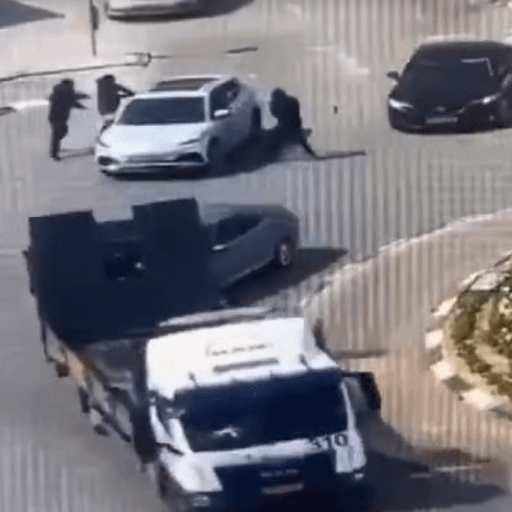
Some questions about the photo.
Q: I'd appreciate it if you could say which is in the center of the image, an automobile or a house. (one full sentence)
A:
Looking in the center of the image, you will find an automobile.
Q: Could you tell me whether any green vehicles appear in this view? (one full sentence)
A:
No, there is no green vehicle in the image.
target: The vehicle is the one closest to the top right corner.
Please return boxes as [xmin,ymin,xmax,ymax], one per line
[384,35,512,135]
